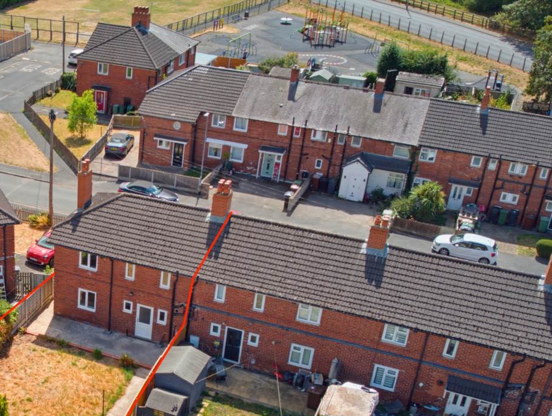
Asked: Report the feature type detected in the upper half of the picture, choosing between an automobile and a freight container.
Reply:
automobile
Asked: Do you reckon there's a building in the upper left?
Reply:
Yes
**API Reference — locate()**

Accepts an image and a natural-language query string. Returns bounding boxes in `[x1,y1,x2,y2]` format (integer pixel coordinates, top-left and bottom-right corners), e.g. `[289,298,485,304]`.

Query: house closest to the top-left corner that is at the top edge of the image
[75,0,200,113]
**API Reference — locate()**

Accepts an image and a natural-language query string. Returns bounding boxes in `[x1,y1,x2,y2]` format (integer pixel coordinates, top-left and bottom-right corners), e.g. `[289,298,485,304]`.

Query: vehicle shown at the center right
[437,232,497,261]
